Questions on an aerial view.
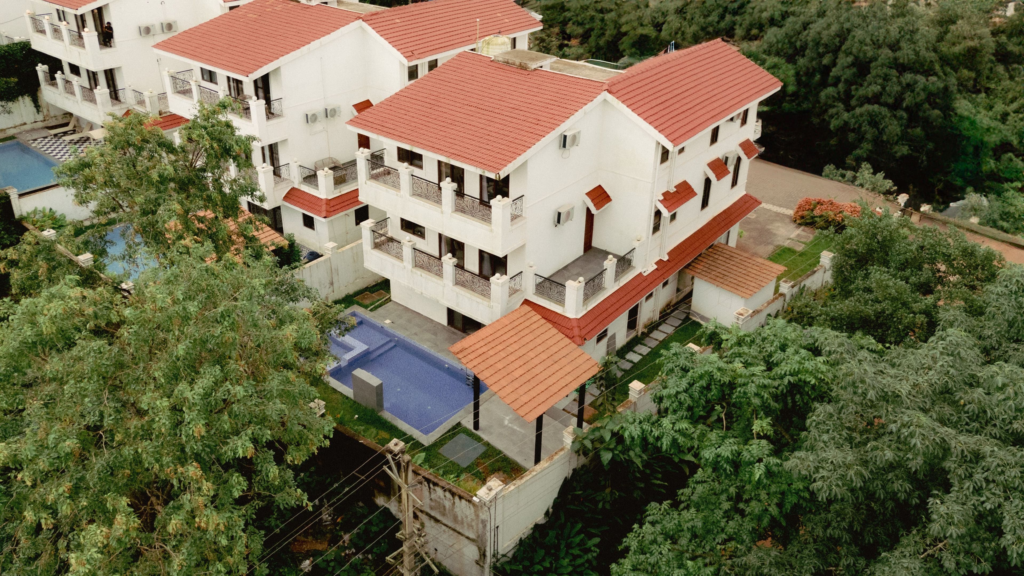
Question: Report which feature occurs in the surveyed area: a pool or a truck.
pool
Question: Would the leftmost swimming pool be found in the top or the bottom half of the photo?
top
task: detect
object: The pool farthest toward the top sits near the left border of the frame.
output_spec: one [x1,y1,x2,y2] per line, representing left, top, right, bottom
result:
[0,136,81,207]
